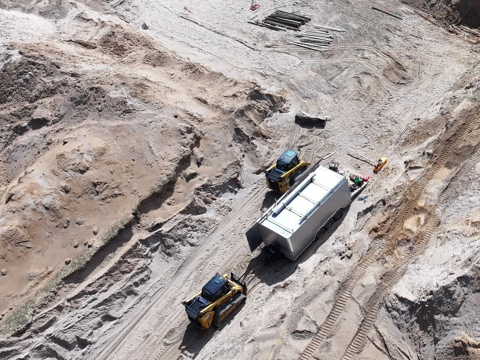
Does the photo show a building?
No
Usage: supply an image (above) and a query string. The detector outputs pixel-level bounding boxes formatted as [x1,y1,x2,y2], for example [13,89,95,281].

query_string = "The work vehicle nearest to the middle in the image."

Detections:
[253,148,304,192]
